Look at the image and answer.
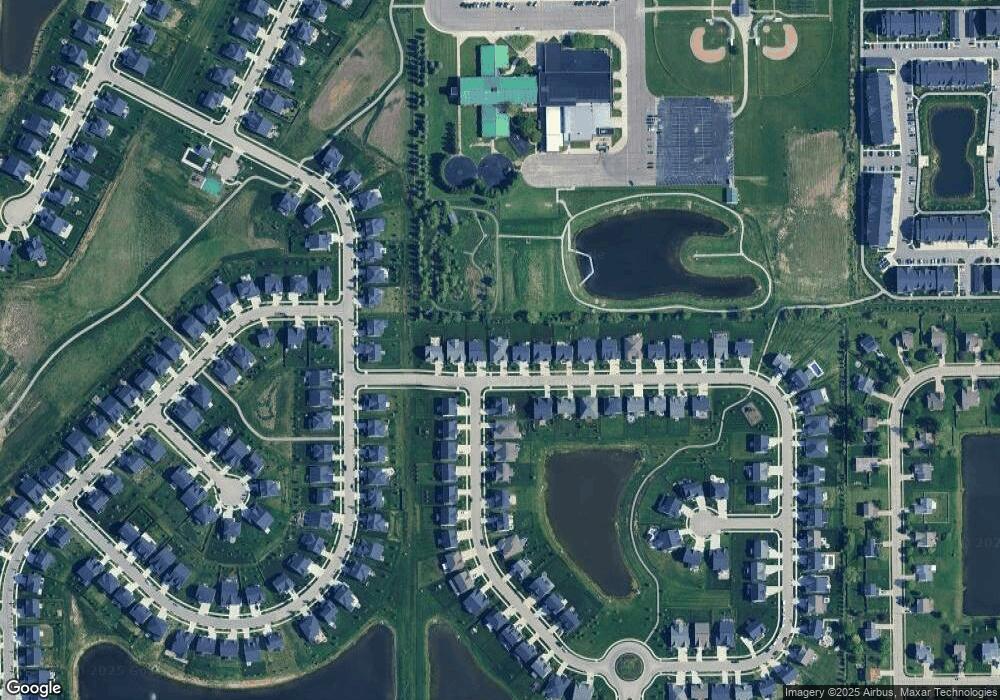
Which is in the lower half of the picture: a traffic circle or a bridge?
traffic circle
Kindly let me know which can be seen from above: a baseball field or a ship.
baseball field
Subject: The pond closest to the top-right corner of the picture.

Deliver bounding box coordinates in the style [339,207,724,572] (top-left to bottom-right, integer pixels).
[929,106,975,199]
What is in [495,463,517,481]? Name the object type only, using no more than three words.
house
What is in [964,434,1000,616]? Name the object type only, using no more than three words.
pond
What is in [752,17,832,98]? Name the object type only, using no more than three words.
baseball field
